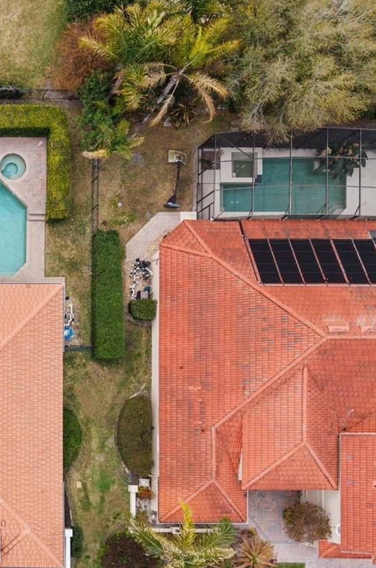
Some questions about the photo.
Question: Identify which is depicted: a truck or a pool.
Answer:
pool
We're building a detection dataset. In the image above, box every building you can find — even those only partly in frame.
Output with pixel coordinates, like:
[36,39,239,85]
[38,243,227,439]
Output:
[0,280,66,568]
[153,218,376,567]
